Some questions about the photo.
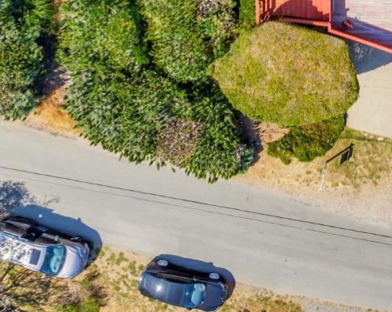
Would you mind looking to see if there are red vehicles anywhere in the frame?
No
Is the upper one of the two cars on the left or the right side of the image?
left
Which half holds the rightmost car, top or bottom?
bottom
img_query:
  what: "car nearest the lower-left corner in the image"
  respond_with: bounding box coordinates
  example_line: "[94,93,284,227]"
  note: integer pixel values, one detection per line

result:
[0,217,90,283]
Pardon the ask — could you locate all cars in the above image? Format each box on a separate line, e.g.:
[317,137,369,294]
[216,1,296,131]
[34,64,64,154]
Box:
[0,217,90,283]
[136,259,230,312]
